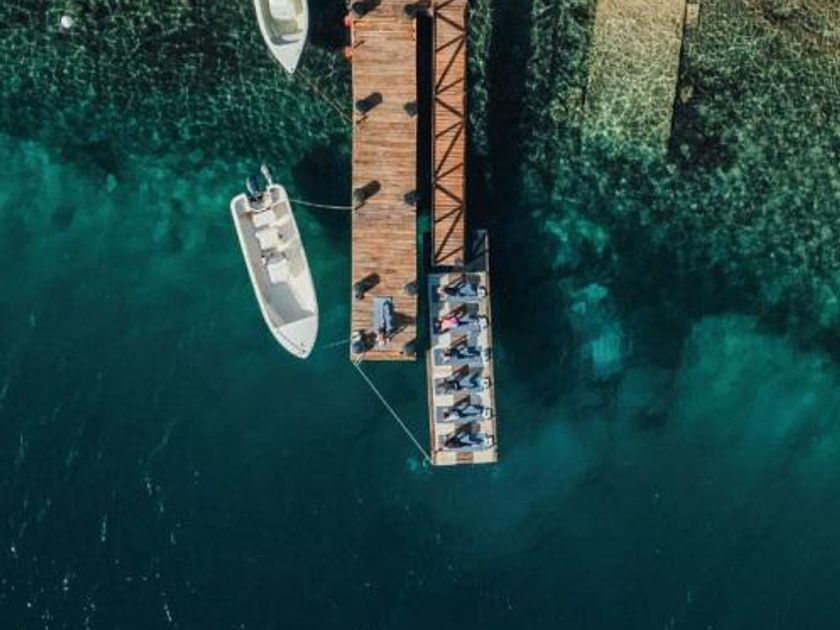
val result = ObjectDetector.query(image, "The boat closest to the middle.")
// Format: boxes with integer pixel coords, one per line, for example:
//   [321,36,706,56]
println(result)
[233,173,314,358]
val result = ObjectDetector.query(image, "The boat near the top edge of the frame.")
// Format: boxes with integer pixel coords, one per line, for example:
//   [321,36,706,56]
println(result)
[253,0,308,75]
